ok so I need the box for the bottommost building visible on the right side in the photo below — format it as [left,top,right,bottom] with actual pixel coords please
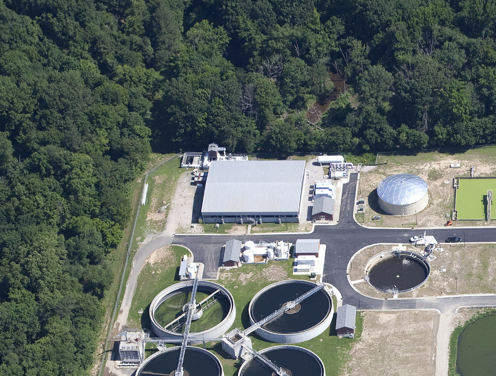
[336,304,356,334]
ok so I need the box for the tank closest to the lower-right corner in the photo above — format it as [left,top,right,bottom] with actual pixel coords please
[363,246,430,295]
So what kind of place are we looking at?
industrial area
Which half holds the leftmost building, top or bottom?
bottom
